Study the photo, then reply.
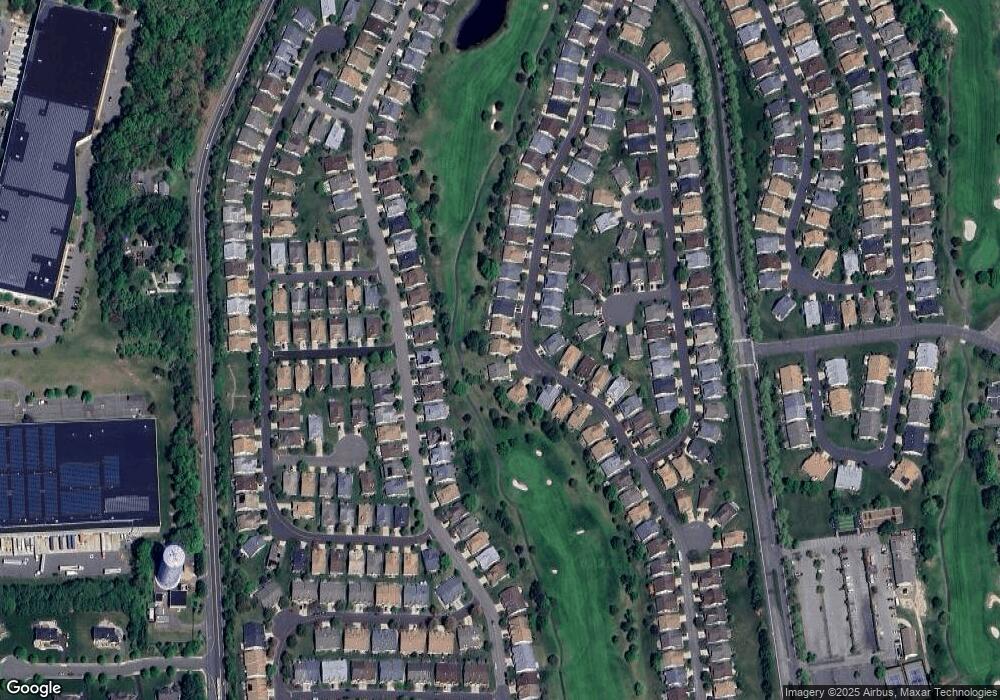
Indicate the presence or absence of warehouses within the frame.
Yes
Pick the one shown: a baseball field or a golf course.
golf course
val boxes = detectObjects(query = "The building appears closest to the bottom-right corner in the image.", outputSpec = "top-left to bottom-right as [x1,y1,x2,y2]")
[900,628,917,660]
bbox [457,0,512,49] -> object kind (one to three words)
pond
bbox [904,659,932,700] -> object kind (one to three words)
tennis court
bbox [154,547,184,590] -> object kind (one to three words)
water tower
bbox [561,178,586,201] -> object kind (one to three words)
house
